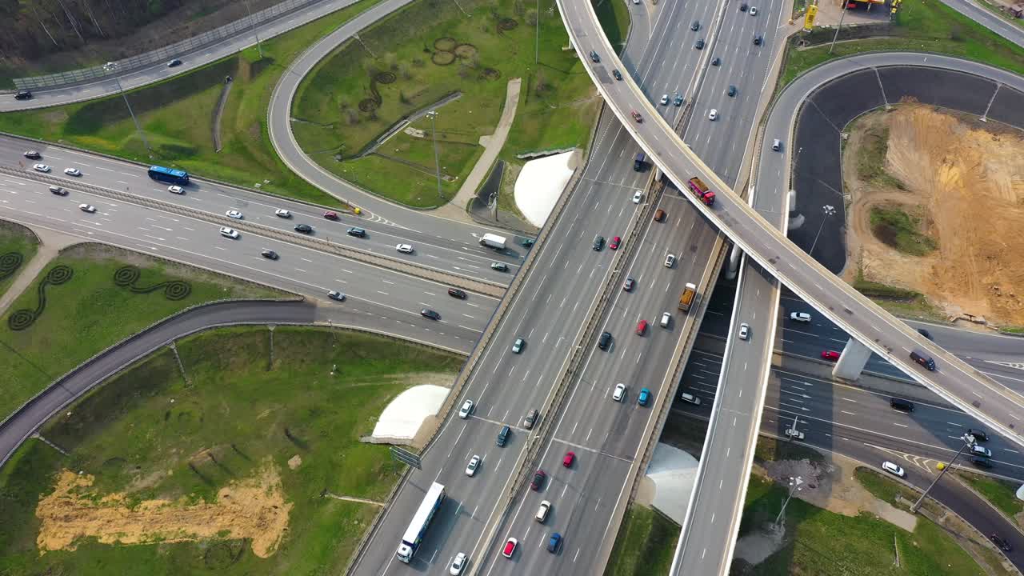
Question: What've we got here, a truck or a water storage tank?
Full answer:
The image shows a truck.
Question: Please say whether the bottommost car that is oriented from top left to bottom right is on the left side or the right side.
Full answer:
The bottommost car that is oriented from top left to bottom right sits on the right side.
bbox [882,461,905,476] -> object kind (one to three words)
car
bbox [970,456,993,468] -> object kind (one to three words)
vehicle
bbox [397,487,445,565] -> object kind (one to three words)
truck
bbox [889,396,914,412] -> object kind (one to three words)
vehicle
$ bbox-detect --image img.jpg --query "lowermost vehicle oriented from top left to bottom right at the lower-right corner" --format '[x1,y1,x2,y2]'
[990,533,1013,554]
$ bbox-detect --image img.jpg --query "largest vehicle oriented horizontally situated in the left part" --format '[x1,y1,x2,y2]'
[149,166,187,184]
